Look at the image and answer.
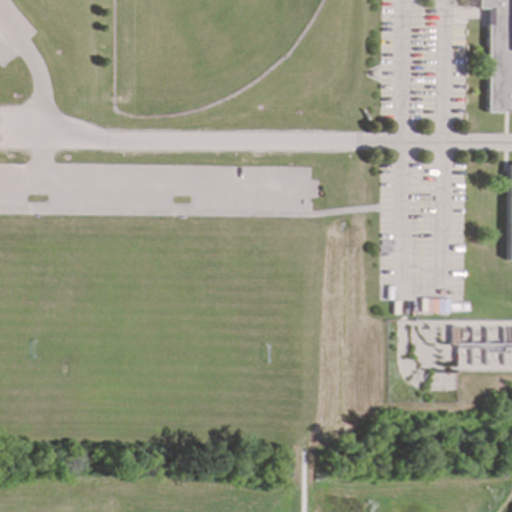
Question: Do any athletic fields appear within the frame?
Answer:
Yes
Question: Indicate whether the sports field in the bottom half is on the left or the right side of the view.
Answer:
left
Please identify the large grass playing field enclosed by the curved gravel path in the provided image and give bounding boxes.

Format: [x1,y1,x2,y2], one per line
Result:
[117,0,321,114]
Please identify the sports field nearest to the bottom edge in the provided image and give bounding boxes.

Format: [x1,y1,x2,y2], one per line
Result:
[26,268,274,430]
